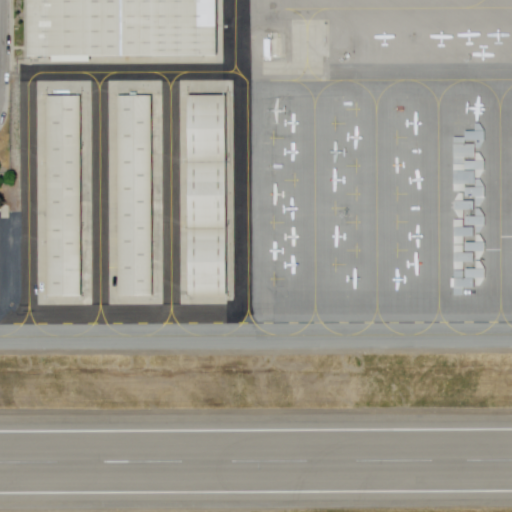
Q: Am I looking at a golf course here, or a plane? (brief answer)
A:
plane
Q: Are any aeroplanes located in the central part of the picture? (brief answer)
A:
Yes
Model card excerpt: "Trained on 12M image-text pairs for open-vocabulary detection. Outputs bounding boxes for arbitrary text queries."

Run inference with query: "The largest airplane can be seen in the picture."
[466,96,485,122]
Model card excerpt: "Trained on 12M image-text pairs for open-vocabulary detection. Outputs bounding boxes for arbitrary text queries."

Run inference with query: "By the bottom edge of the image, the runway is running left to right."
[0,414,512,504]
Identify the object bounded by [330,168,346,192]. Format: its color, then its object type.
white airplane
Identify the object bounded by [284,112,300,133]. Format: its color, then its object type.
white airplane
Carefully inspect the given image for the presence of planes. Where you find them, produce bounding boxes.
[330,140,346,163]
[268,98,286,124]
[458,30,482,46]
[284,142,299,162]
[374,32,396,47]
[392,268,407,292]
[392,156,406,174]
[270,182,284,206]
[406,111,422,136]
[270,240,284,260]
[430,31,454,48]
[282,196,298,220]
[472,45,495,60]
[346,126,362,150]
[284,112,300,133]
[284,255,299,275]
[488,29,510,44]
[406,252,423,276]
[330,168,346,192]
[466,96,485,122]
[346,266,362,289]
[408,224,424,248]
[284,227,300,247]
[409,169,424,190]
[332,225,346,248]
